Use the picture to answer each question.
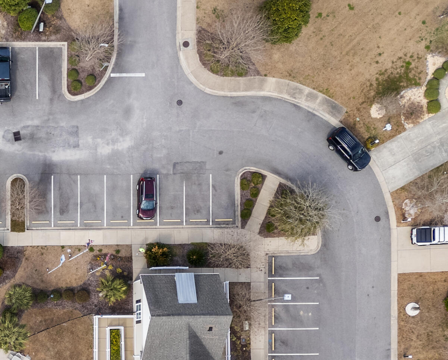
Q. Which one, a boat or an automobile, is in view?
automobile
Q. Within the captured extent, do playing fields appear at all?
No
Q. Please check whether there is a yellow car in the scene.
No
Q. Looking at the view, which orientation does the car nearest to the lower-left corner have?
from top to bottom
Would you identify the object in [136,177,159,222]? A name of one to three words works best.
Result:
car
